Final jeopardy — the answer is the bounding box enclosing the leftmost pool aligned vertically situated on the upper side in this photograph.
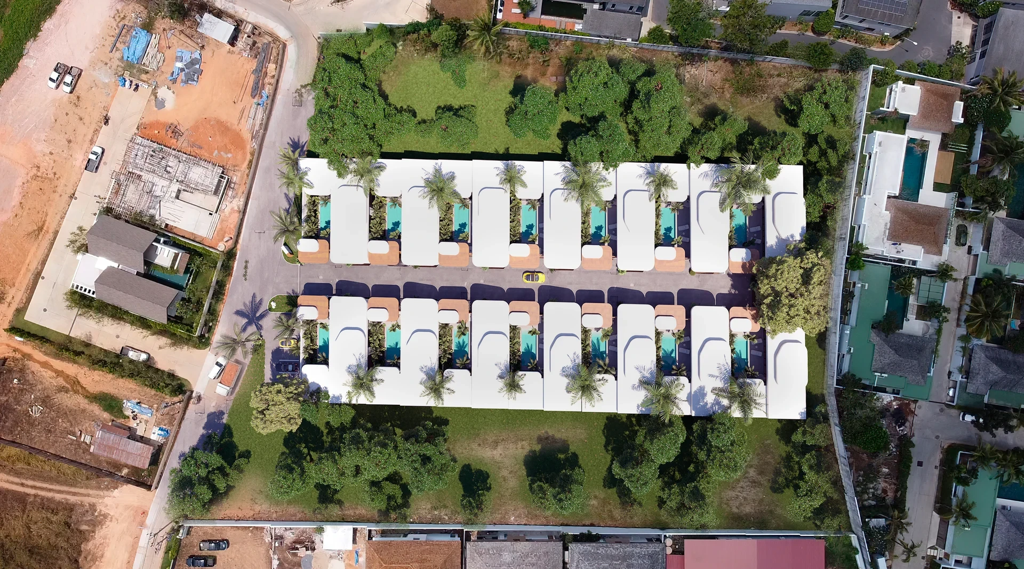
[318,199,330,242]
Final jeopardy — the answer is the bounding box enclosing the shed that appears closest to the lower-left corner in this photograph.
[91,422,159,469]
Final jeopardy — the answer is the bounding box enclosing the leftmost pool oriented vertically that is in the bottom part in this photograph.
[316,323,329,363]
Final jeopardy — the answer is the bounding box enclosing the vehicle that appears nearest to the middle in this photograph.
[523,271,545,283]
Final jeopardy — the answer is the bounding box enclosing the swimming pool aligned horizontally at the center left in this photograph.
[140,268,189,291]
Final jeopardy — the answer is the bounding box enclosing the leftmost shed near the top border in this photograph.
[195,13,239,46]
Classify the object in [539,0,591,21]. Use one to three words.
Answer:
swimming pool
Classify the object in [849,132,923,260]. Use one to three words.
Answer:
house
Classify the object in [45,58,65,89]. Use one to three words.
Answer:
vehicle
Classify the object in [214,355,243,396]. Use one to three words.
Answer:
truck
